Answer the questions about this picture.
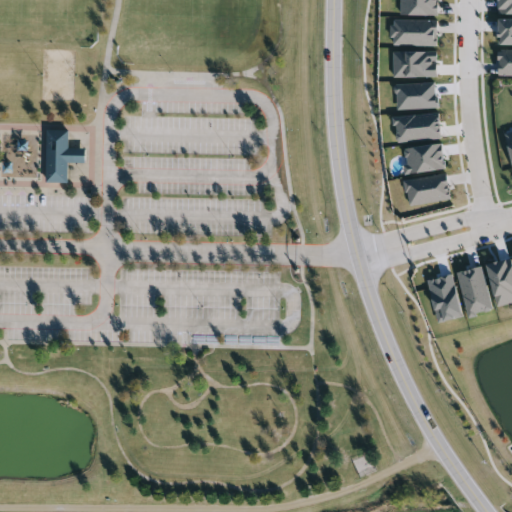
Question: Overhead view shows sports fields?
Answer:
Yes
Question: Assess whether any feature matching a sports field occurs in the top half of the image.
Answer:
Yes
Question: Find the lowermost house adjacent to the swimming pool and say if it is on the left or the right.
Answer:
right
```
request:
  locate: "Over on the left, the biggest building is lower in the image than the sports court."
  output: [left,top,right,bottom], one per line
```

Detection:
[46,128,84,182]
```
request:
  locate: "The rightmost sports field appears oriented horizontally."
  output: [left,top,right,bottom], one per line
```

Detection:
[124,0,262,56]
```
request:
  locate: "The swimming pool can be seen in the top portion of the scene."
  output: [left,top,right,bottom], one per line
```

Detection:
[388,156,405,178]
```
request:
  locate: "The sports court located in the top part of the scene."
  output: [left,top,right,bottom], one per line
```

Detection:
[42,50,74,101]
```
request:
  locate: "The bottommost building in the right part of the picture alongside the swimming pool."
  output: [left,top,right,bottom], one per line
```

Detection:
[406,172,450,206]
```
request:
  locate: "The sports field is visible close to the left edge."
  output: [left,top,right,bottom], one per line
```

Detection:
[0,0,94,46]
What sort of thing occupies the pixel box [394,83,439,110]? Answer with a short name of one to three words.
house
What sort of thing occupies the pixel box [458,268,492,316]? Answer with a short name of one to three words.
house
